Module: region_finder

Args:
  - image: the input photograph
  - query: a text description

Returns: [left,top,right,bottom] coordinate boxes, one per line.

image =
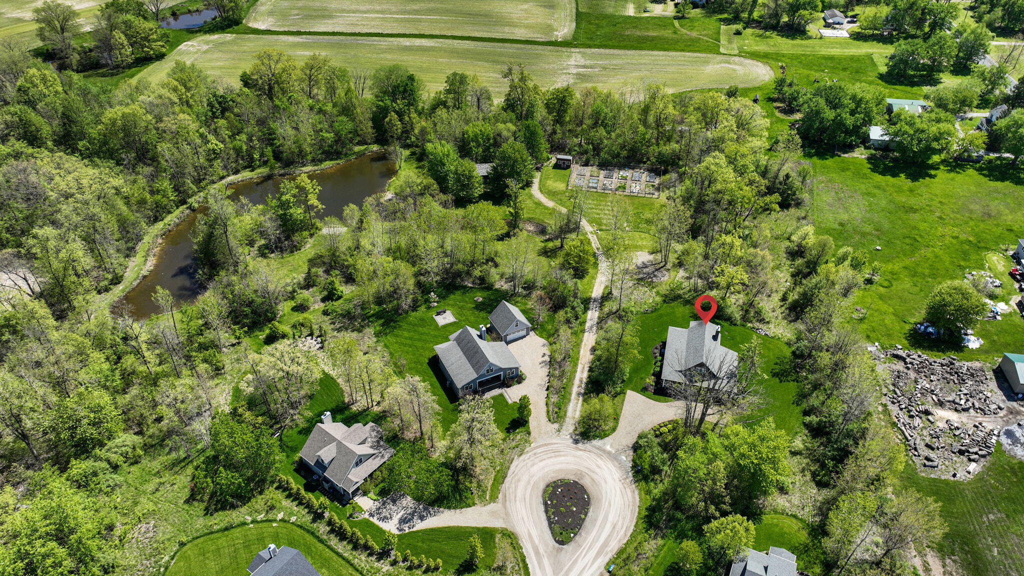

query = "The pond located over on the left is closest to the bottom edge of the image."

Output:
[107,150,397,319]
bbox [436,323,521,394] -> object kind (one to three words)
house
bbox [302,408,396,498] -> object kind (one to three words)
house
